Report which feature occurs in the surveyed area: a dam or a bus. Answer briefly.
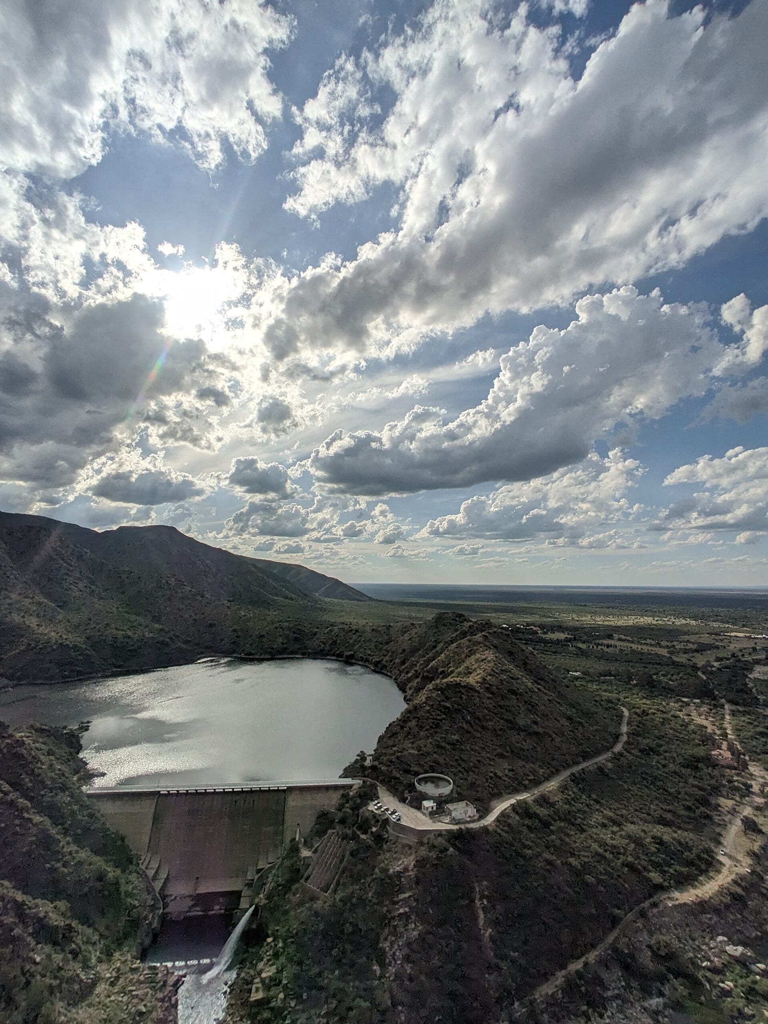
dam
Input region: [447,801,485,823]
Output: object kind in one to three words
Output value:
building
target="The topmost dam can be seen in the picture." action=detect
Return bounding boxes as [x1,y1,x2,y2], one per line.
[87,773,371,914]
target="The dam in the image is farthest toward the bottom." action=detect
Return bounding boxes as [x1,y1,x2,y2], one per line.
[154,960,217,980]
